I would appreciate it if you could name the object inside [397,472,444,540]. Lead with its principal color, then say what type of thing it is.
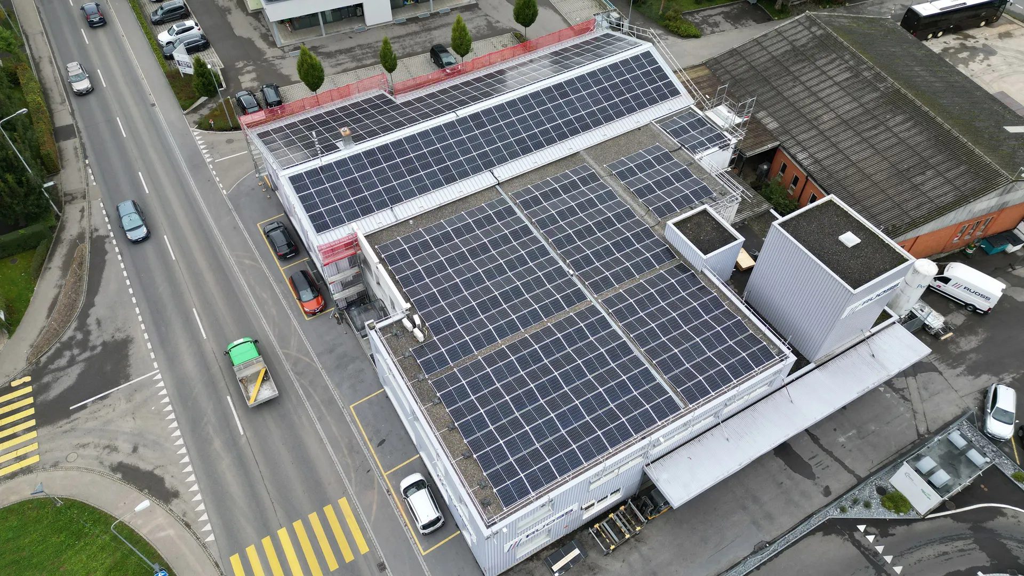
white car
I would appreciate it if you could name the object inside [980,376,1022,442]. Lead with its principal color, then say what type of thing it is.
white car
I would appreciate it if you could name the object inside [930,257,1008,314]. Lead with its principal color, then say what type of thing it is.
white van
